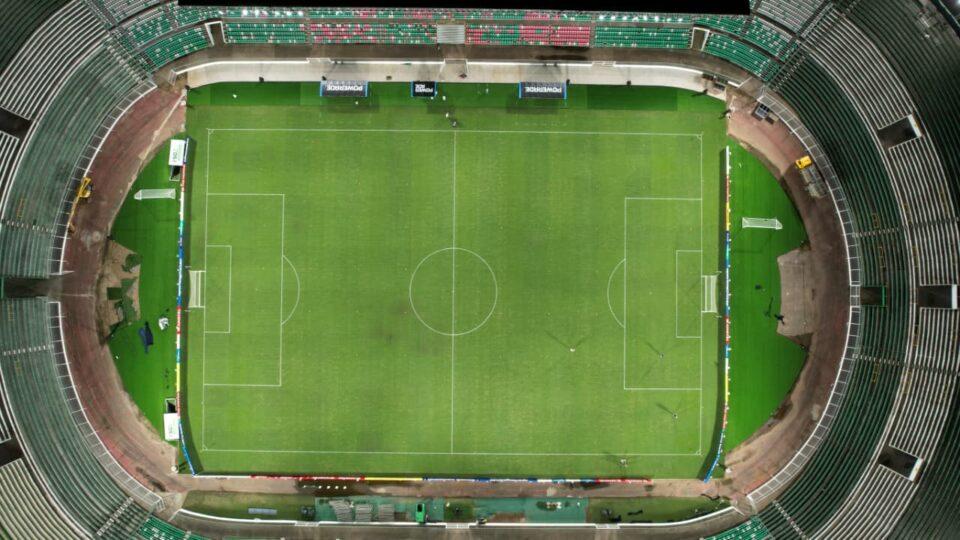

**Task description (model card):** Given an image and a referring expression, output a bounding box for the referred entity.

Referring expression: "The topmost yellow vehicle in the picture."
[792,156,814,170]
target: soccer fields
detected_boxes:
[185,110,728,480]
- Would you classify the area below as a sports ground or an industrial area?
sports ground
